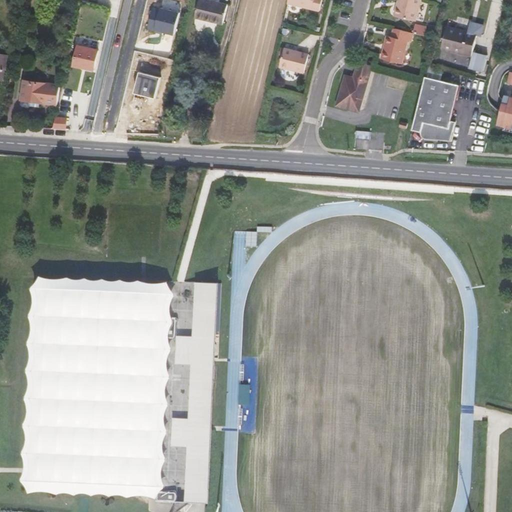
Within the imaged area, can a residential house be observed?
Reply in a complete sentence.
Yes, there's a residential house down there.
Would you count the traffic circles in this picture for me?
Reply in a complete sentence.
The picture shows no traffic circles.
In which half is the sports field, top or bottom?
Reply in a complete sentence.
The sports field is in the bottom half of the image.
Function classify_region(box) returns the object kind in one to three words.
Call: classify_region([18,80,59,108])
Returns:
house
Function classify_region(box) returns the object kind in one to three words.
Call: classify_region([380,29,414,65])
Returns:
house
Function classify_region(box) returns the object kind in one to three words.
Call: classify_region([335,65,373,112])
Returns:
building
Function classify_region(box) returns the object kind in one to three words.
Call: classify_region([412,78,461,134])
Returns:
building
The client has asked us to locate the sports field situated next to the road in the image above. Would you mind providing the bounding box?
[240,216,463,512]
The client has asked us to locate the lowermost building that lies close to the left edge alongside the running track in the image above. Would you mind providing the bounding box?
[20,272,176,502]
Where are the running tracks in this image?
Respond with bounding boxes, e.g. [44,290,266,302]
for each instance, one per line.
[222,202,476,512]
